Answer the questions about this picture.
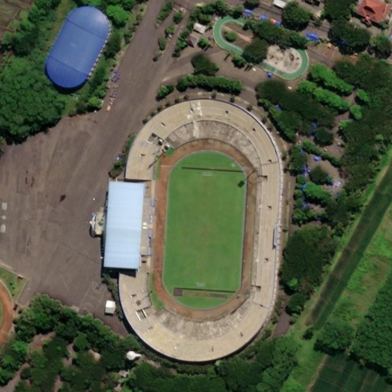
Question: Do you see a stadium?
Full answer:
Yes, there's a stadium down there.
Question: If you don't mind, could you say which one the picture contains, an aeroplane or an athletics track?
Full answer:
The one in the frame is an athletics track.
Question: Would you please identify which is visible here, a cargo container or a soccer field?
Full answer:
Looking from above, you can make out a soccer field.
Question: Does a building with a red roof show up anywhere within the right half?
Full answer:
Yes, the scene does show a building with a red roof within the right half.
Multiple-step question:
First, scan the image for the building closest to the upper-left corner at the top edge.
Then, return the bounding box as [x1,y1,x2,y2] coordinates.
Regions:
[49,5,113,88]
